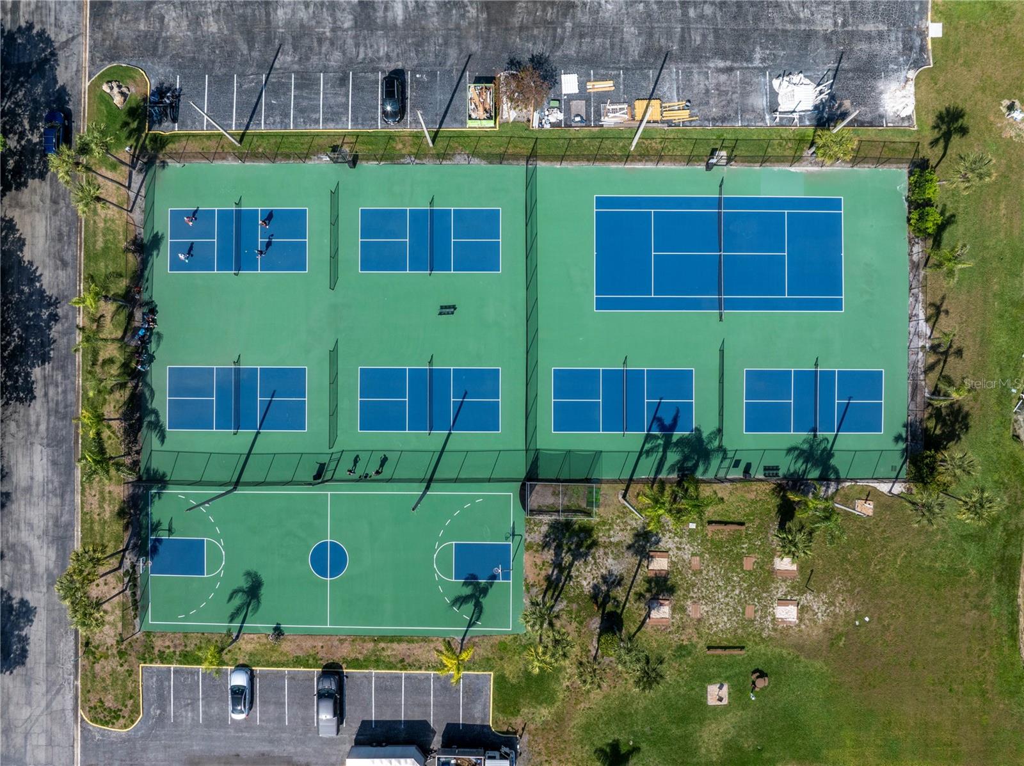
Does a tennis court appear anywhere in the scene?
Yes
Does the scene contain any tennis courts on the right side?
Yes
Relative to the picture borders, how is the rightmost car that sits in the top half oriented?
vertically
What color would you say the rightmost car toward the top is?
black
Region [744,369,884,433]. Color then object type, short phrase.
blue sports court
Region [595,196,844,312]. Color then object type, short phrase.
blue tennis court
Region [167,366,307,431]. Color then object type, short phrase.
blue sports court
